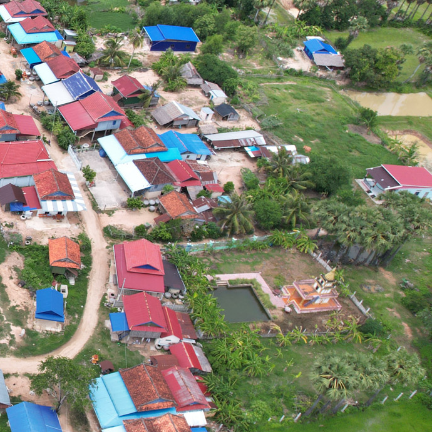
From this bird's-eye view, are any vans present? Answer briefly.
No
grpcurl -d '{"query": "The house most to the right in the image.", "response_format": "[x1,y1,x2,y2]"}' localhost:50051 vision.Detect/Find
[358,164,432,203]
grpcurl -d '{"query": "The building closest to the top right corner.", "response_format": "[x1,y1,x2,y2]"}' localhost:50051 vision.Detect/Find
[297,36,344,76]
